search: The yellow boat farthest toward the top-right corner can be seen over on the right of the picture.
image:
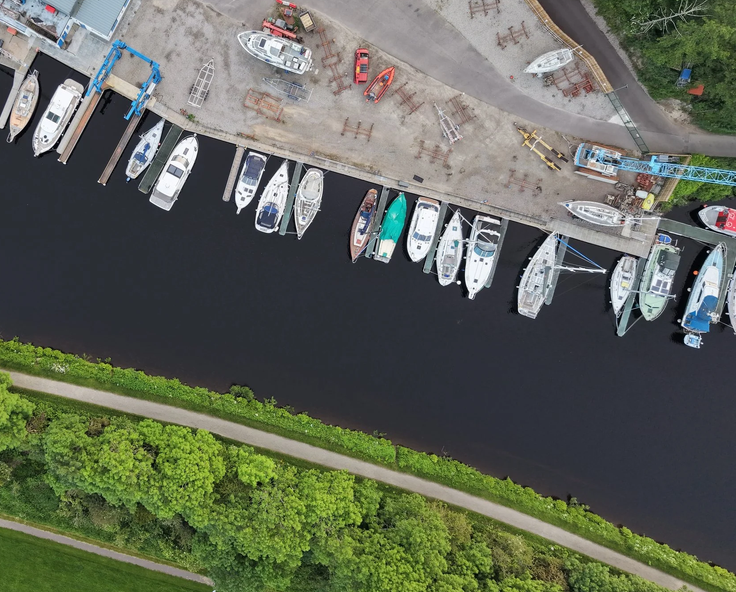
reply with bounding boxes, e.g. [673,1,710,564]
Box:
[642,194,655,210]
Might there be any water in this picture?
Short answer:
Yes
